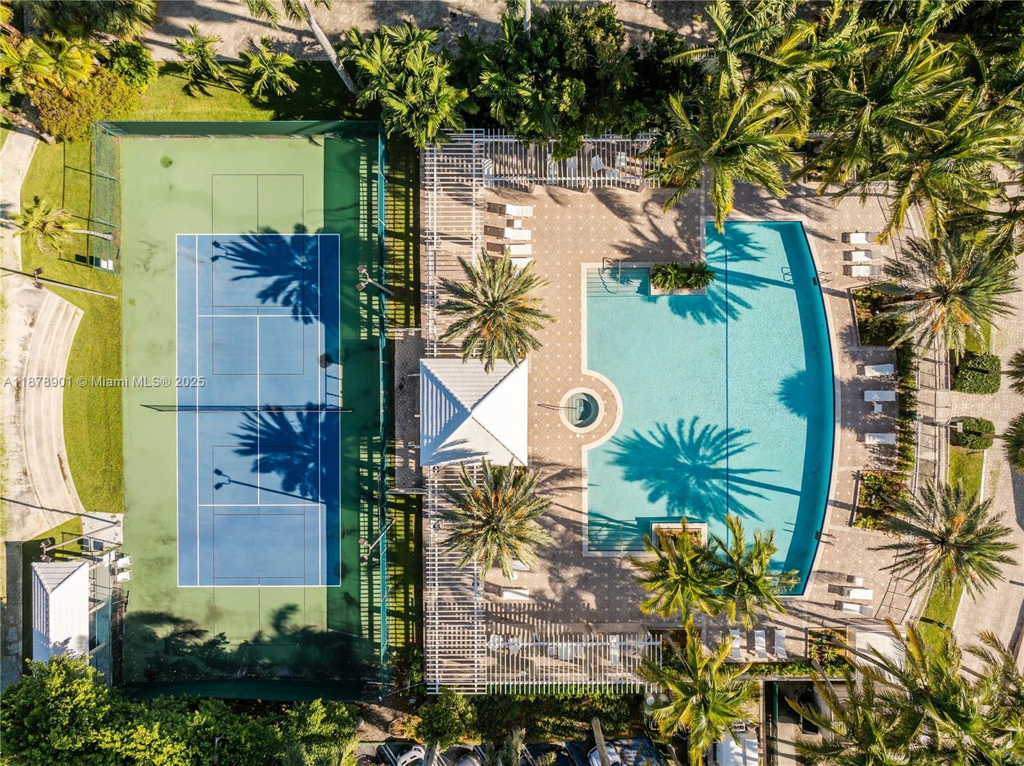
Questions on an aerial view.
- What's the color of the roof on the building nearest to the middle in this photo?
white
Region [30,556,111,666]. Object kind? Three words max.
shed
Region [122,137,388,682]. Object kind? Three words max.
tennis court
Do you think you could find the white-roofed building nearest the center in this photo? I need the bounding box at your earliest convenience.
[419,357,529,467]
